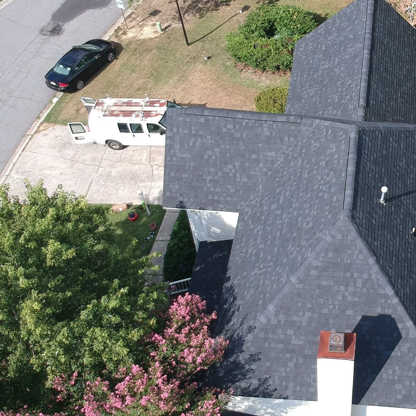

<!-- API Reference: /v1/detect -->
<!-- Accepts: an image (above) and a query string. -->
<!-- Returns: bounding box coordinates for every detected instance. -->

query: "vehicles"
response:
[68,94,170,150]
[46,37,117,93]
